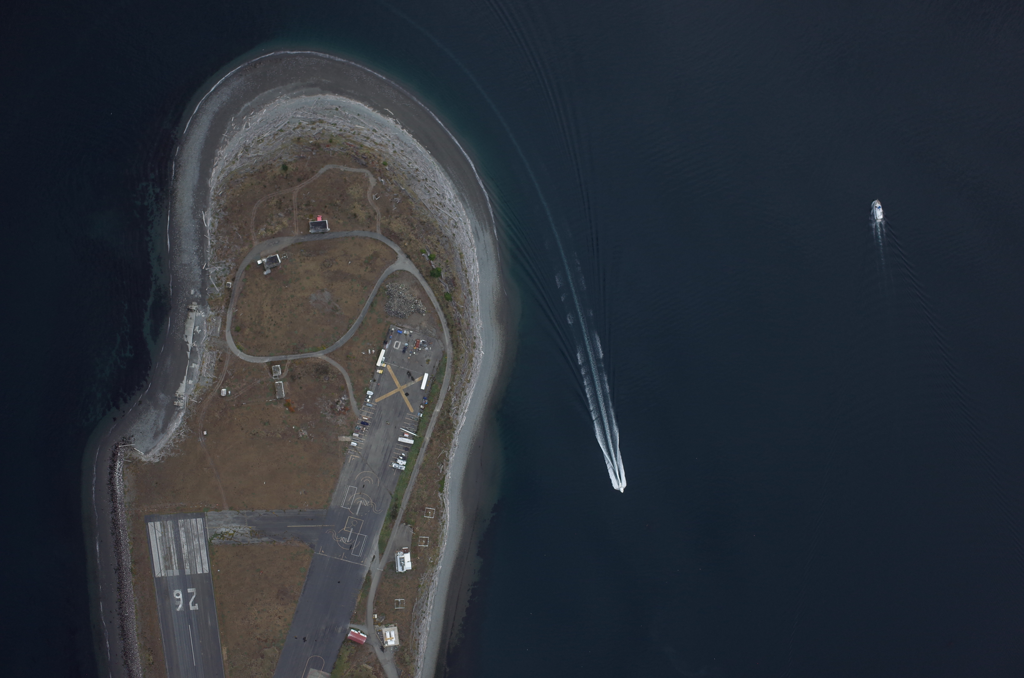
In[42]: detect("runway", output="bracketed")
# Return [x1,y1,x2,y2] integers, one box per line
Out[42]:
[145,512,225,678]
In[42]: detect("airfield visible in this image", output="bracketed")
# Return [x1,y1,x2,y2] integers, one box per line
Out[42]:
[145,325,443,678]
